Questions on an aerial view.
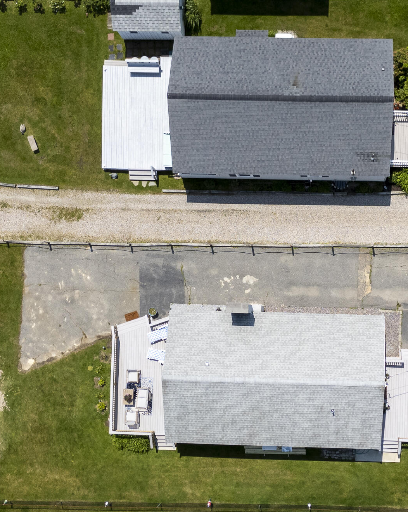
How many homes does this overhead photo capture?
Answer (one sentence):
The count of homes comes to 2.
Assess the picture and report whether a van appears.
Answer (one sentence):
No, I can't see a single van in this photo.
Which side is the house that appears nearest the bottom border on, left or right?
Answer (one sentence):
The house that appears nearest the bottom border is on the right side of the image.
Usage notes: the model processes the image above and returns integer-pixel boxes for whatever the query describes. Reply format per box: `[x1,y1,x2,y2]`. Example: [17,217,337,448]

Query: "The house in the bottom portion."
[165,304,384,451]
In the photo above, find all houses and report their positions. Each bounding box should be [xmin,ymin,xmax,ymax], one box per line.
[165,304,384,451]
[169,28,394,182]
